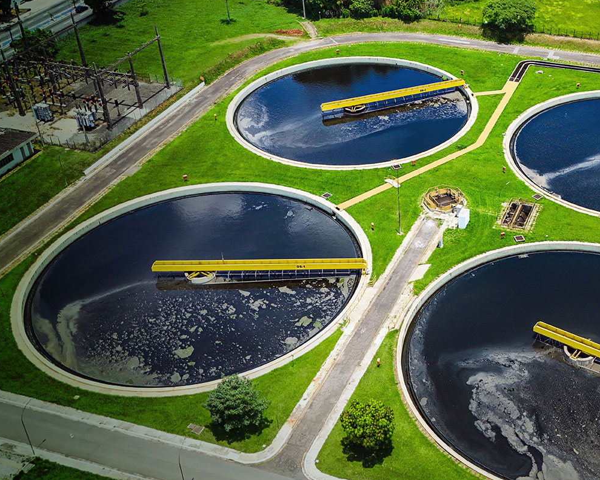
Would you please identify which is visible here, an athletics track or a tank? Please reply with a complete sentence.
I can see a tank in this picture.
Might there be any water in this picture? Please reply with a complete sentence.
Yes, there is water in the image.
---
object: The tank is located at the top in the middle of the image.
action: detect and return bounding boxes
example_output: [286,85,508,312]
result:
[225,57,477,171]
